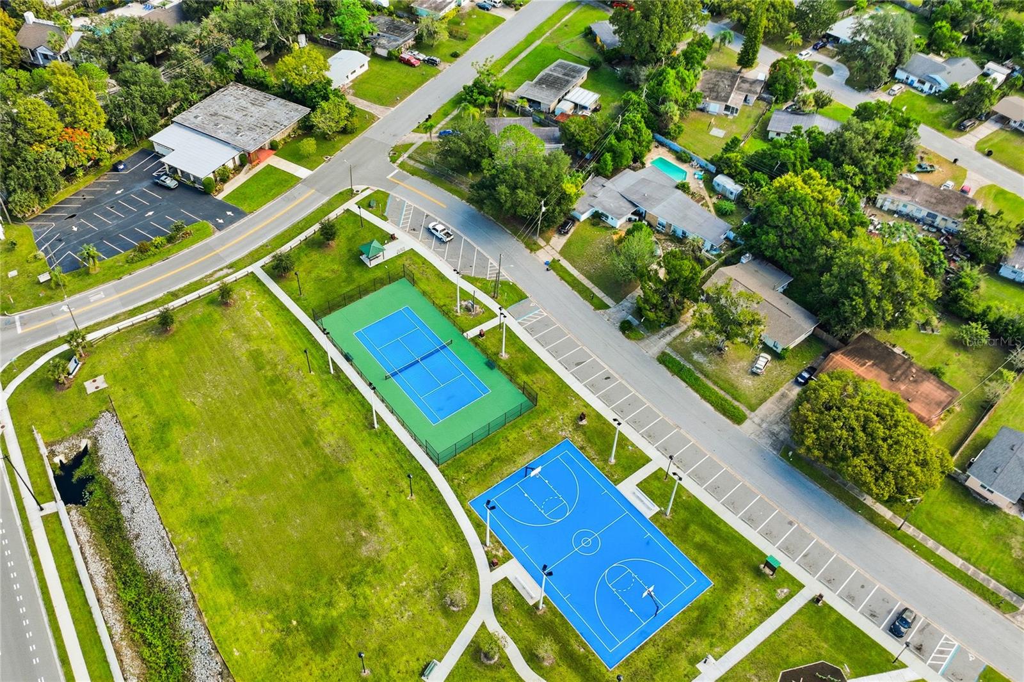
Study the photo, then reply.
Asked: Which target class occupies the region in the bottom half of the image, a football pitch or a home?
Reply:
home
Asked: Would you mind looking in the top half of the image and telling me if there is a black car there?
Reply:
Yes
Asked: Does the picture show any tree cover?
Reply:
Yes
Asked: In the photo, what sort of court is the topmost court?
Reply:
tennis court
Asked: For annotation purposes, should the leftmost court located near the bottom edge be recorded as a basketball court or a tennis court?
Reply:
basketball court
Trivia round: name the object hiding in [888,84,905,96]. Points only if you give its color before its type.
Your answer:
white vehicle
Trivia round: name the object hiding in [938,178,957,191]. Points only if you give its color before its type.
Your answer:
white vehicle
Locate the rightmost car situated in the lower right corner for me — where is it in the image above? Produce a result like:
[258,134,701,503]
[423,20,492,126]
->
[887,605,918,639]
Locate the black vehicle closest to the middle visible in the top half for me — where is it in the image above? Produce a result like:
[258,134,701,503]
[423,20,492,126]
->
[557,220,577,236]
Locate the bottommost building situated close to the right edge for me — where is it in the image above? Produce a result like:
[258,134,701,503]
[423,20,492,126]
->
[962,427,1024,511]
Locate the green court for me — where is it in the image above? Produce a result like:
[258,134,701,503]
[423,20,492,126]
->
[314,276,535,463]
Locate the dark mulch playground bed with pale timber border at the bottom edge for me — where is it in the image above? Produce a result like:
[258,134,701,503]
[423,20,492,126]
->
[777,660,850,682]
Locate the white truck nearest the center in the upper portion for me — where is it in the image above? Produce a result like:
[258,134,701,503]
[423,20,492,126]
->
[428,221,455,242]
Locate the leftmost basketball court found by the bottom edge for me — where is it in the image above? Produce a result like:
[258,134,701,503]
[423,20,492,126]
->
[469,440,712,667]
